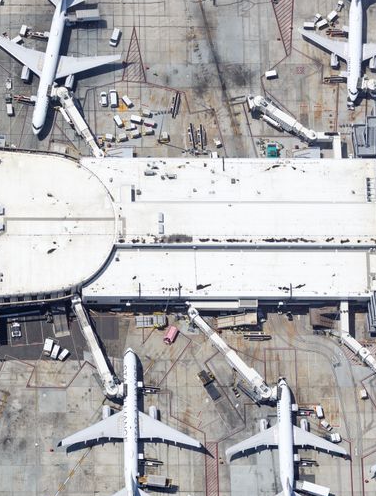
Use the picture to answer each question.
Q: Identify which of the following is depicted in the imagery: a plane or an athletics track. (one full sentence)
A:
This aerial view contains a plane.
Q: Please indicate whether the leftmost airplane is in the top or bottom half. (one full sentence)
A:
The top half of the photo is where the leftmost airplane is.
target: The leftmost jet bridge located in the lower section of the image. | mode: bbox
[71,296,125,397]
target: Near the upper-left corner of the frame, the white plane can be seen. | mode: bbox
[0,0,118,134]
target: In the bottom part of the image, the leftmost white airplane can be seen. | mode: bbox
[58,349,201,496]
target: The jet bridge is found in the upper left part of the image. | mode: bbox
[49,84,105,158]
